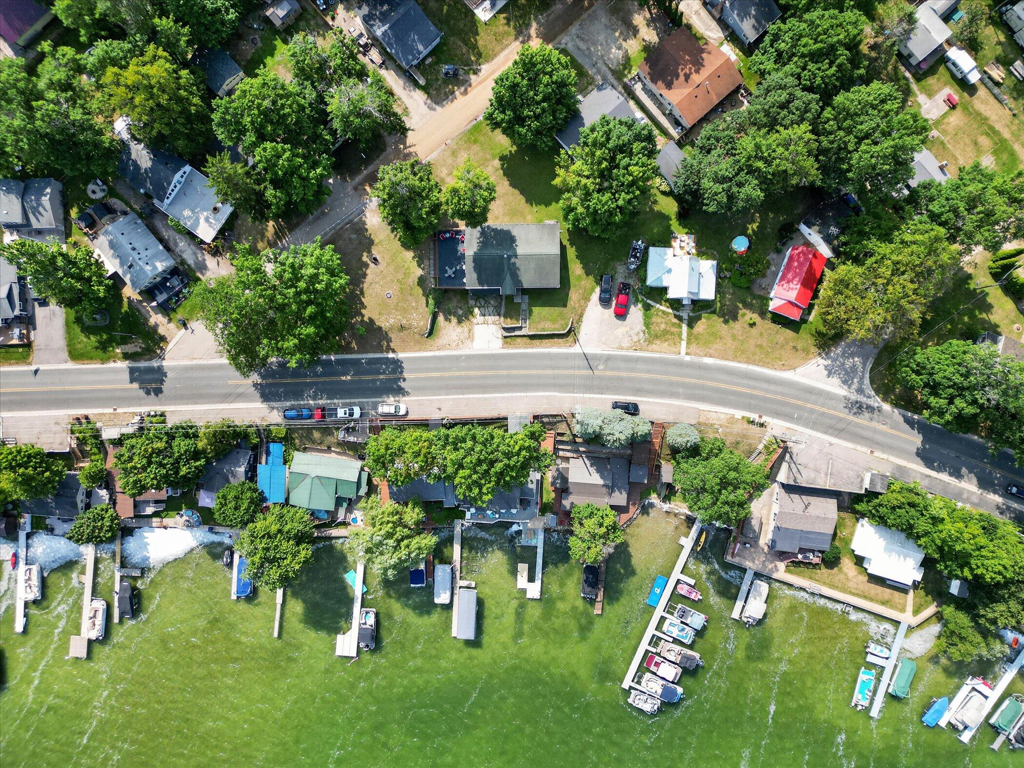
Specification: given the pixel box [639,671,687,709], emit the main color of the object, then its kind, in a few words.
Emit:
white boat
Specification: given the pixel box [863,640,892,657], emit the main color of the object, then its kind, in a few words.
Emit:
white boat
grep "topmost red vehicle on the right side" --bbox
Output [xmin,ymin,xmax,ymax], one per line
[614,281,631,316]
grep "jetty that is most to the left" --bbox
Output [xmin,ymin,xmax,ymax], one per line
[15,530,30,633]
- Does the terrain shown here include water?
Yes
